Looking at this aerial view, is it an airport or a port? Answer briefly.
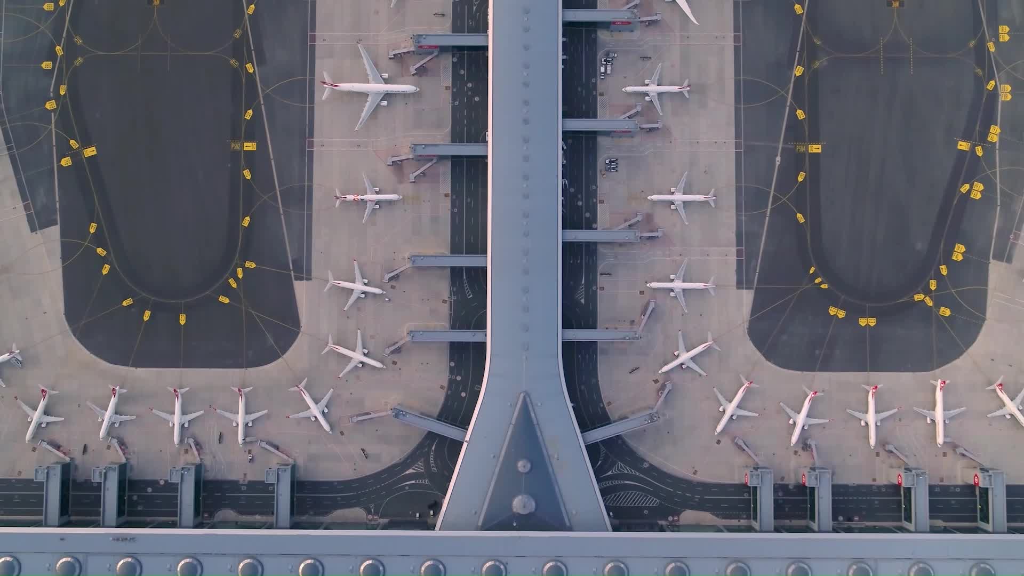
airport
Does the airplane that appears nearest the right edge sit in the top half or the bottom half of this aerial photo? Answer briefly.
bottom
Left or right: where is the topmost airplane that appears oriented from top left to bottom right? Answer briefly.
right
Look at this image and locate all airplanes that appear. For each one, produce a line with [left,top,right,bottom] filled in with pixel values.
[676,0,699,24]
[323,42,420,130]
[88,382,136,444]
[647,171,717,224]
[846,389,901,448]
[913,380,966,447]
[288,380,333,433]
[647,259,718,313]
[659,329,719,378]
[987,379,1024,430]
[781,388,830,445]
[151,389,203,446]
[335,171,402,223]
[622,63,691,115]
[14,386,62,443]
[328,260,386,311]
[215,389,267,446]
[324,327,386,380]
[713,377,761,434]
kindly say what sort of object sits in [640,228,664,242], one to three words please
jet bridge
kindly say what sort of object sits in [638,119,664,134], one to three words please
jet bridge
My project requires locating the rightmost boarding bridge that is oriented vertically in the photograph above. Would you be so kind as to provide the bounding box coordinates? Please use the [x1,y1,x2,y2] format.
[807,438,820,467]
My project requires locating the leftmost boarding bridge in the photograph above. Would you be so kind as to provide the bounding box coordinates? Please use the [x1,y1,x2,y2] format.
[38,438,75,462]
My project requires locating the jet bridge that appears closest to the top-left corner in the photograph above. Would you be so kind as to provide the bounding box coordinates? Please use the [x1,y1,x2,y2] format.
[388,46,416,59]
